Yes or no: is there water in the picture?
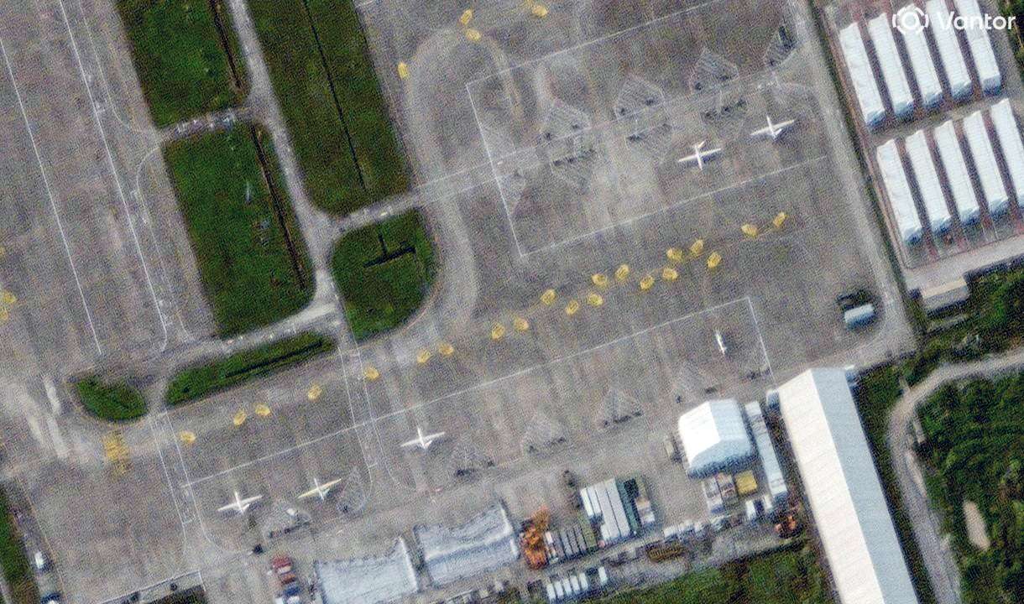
No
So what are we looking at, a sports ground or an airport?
airport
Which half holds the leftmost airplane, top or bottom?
bottom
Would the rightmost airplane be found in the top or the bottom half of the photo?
top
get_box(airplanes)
[715,329,730,355]
[217,491,262,516]
[399,426,445,450]
[297,478,342,500]
[748,116,794,140]
[676,142,720,170]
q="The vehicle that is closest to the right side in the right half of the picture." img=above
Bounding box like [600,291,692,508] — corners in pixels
[837,287,870,306]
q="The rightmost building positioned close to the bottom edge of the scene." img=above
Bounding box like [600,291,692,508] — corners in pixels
[779,369,918,604]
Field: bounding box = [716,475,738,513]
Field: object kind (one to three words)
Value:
truck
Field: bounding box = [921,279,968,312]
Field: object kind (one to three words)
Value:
building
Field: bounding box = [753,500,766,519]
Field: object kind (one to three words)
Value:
vehicle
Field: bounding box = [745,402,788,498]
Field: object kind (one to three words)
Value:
building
